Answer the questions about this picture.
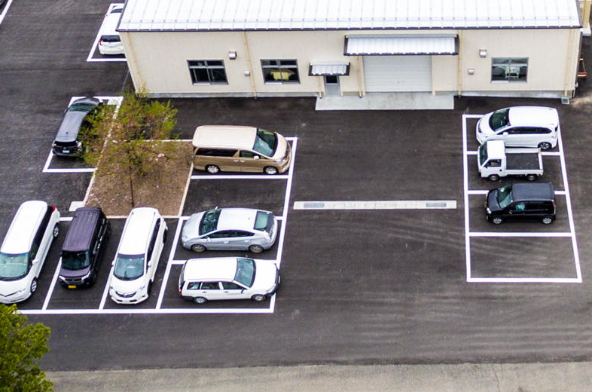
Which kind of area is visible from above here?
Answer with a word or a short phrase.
parking lot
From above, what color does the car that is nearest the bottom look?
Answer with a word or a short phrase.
white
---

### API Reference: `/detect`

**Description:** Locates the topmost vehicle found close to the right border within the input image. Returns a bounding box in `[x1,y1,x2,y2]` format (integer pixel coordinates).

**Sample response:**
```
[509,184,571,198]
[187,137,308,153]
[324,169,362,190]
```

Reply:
[474,106,568,151]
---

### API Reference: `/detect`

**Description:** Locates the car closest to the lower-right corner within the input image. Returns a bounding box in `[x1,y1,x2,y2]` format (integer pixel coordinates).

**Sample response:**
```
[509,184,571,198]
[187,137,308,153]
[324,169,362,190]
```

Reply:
[484,180,559,225]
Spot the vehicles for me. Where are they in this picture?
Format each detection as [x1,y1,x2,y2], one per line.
[94,0,126,52]
[188,125,294,175]
[0,195,59,298]
[474,106,568,151]
[173,254,285,304]
[475,138,546,181]
[108,200,168,298]
[49,86,102,151]
[53,204,109,284]
[178,205,281,253]
[484,180,559,225]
